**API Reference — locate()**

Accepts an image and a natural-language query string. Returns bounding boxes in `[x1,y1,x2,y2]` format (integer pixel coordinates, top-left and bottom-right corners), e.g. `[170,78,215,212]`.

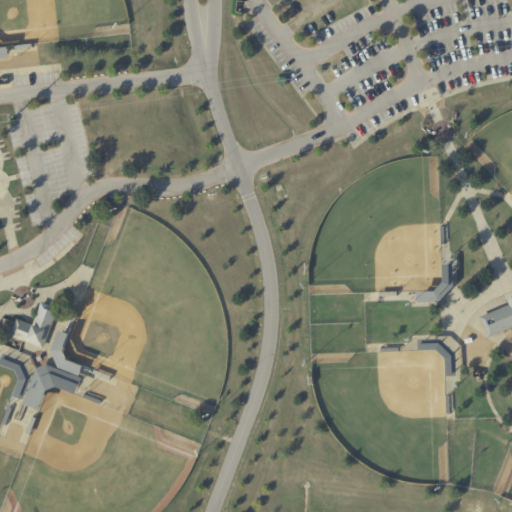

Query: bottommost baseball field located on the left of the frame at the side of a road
[0,389,200,512]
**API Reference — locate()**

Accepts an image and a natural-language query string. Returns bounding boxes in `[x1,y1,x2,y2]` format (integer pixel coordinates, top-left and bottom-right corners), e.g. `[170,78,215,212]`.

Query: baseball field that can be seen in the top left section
[0,0,130,46]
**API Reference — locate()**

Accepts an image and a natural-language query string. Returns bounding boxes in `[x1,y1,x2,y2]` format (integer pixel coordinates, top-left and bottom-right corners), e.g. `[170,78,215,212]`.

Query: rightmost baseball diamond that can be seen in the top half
[466,110,512,202]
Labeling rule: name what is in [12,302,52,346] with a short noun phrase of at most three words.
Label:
building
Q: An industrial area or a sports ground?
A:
sports ground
